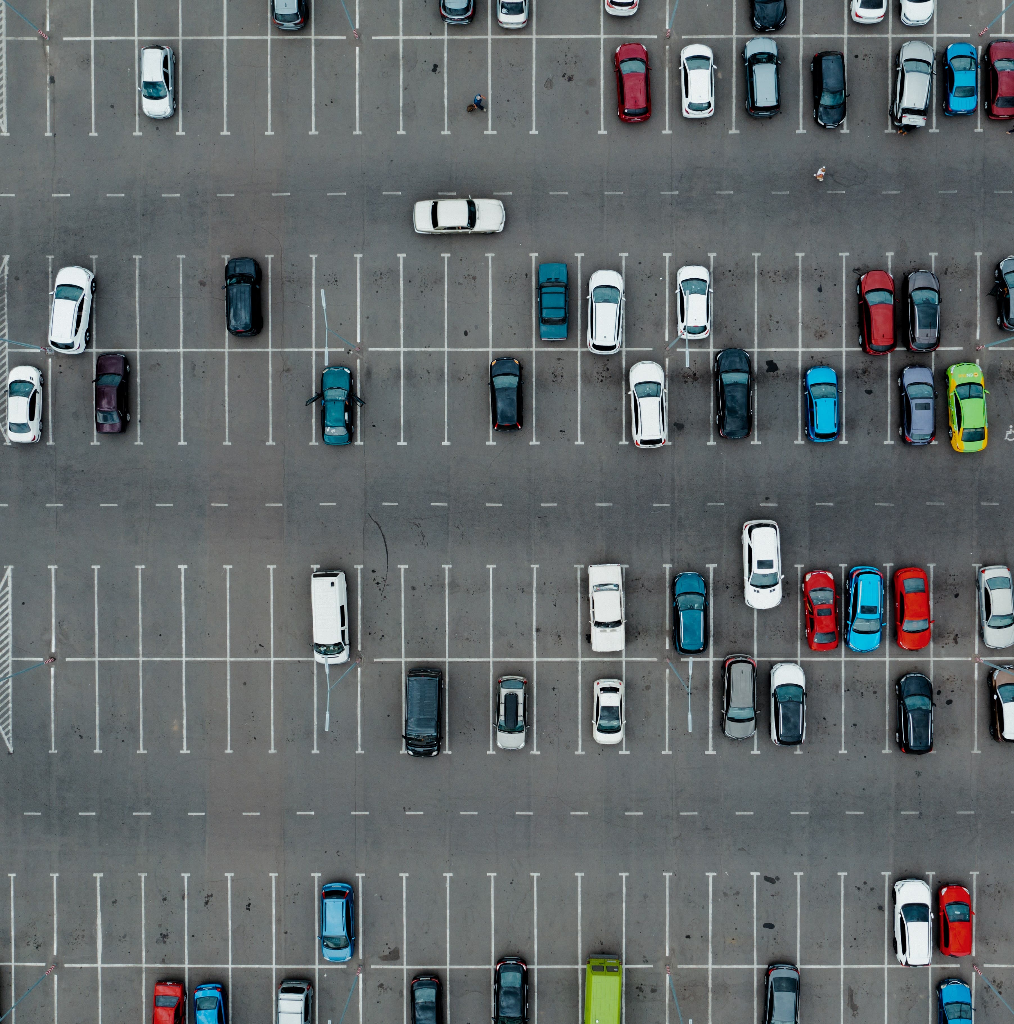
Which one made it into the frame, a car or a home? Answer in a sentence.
This aerial view contains a car.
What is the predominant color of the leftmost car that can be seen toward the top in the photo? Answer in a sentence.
From above, the leftmost car that can be seen toward the top appears white.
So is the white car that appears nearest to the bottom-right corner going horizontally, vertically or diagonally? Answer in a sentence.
The white car that appears nearest to the bottom-right corner has been laid out vertically relative to the frame.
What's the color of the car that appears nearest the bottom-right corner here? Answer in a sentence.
The car that appears nearest the bottom-right corner is blue.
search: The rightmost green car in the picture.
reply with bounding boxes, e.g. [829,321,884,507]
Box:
[944,363,991,452]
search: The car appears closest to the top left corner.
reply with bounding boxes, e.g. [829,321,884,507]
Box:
[135,45,177,119]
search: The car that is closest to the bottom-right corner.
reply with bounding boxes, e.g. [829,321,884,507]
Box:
[935,977,979,1024]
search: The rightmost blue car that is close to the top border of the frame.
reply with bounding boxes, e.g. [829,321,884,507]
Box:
[940,42,985,116]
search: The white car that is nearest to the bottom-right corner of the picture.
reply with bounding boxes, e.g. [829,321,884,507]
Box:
[893,878,939,969]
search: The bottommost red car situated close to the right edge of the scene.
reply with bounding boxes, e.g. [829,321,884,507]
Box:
[936,884,979,958]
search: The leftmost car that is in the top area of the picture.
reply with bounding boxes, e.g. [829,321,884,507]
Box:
[1,365,45,443]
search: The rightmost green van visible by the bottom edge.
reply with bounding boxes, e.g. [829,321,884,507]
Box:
[585,952,622,1024]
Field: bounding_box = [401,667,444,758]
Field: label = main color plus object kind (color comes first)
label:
black van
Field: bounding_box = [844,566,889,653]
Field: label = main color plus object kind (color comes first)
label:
blue car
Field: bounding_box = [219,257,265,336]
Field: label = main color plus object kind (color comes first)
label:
black car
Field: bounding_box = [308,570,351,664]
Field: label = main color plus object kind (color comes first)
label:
white van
